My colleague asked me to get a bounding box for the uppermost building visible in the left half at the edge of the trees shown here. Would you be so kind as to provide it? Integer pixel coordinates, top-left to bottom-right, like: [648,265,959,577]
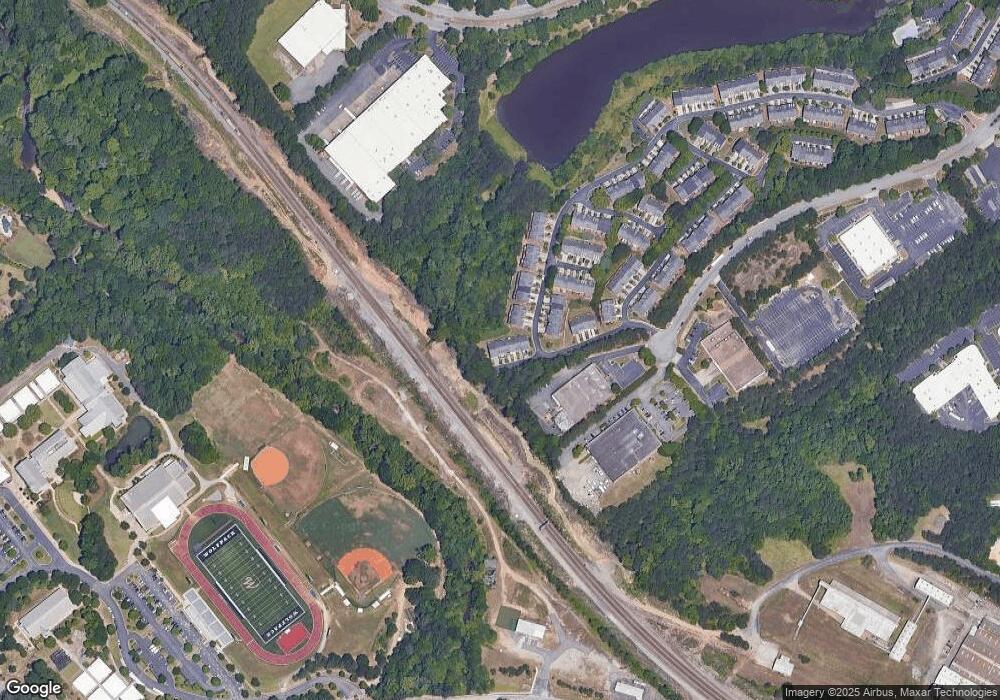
[277,0,346,67]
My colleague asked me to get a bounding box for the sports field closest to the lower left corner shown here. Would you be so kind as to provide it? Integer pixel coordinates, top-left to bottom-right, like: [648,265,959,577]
[188,514,312,654]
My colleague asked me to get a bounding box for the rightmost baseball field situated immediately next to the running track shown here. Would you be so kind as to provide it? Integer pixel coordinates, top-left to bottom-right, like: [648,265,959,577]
[297,488,436,606]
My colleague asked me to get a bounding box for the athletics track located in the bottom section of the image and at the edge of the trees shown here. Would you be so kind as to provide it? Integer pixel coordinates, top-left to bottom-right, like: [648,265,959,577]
[178,504,322,664]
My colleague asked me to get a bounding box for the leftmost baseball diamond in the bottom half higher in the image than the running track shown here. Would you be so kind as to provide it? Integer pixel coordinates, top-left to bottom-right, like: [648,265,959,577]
[251,446,289,486]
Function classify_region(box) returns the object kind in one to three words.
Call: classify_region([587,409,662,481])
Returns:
building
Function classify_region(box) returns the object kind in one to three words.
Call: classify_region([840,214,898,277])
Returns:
building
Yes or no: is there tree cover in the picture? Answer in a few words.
Yes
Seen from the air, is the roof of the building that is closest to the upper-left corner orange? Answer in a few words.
No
